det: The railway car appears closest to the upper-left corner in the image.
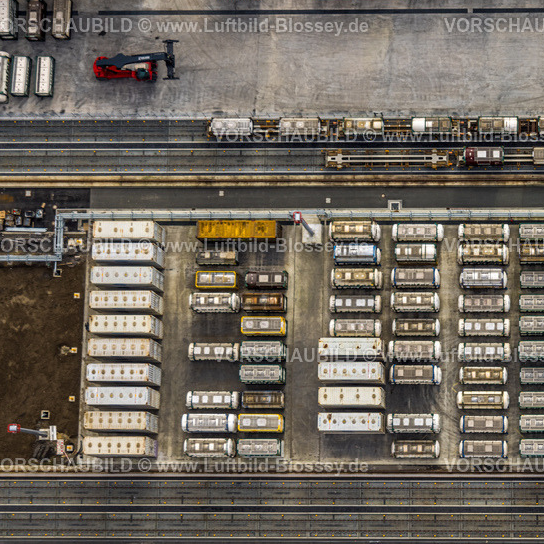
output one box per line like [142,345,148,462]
[203,119,327,138]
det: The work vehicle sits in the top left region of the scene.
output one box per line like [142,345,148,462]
[93,41,175,84]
